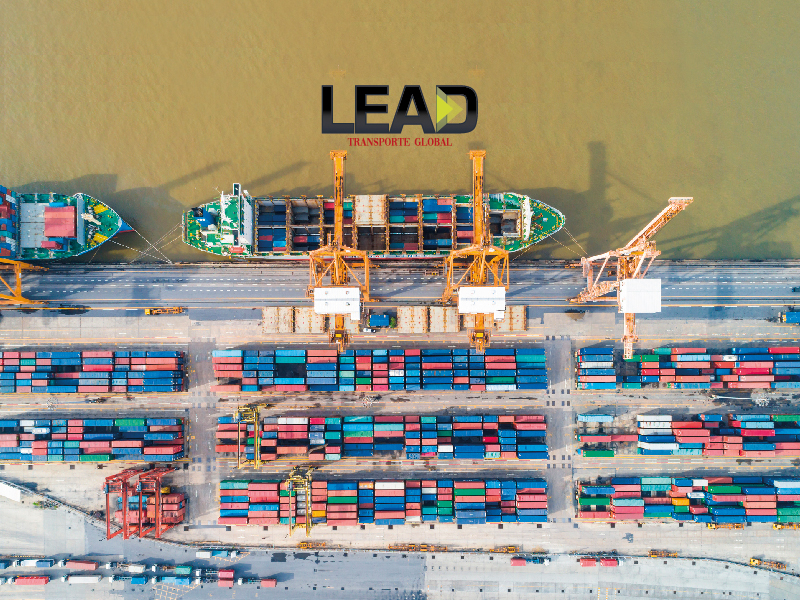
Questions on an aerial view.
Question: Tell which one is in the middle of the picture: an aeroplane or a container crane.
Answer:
container crane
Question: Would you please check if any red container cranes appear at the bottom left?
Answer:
Yes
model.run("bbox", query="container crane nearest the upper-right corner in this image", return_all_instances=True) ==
[569,191,697,361]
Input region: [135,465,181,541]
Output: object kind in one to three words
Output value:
container crane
